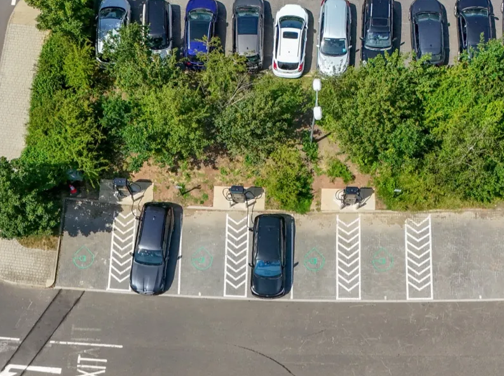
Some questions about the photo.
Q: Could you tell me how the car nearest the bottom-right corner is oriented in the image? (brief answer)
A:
from top to bottom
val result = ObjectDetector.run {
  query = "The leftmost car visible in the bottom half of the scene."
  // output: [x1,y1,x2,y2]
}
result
[129,205,177,292]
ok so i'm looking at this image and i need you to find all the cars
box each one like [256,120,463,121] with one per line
[455,0,497,61]
[247,215,291,297]
[228,0,268,74]
[129,205,177,292]
[272,3,312,80]
[358,0,400,60]
[315,0,356,76]
[135,0,175,65]
[409,0,450,67]
[180,0,220,73]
